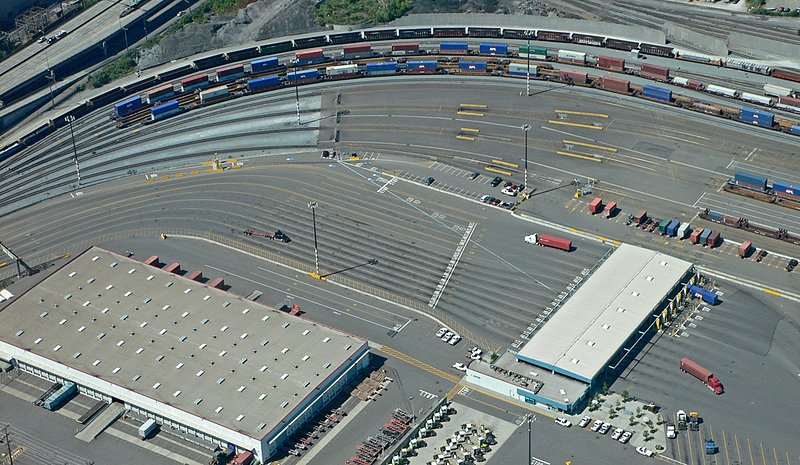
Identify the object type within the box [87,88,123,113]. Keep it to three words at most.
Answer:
rail car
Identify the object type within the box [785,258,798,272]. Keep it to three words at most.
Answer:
vehicle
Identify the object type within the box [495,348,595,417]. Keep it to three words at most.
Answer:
building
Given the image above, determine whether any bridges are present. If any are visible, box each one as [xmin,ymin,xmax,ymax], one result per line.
[0,0,173,98]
